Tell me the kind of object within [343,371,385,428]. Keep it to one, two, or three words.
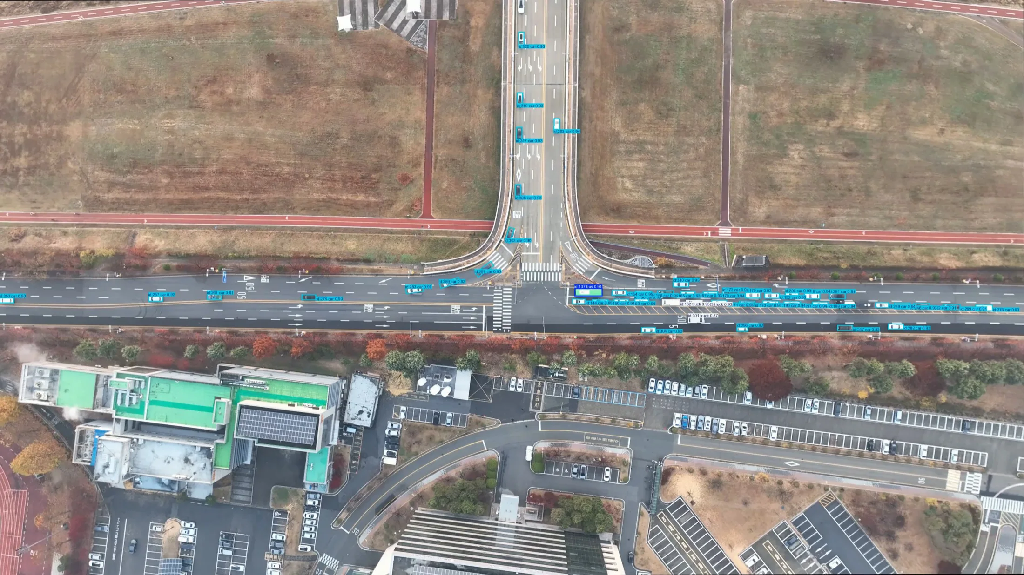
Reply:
building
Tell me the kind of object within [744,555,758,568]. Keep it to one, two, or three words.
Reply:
vehicle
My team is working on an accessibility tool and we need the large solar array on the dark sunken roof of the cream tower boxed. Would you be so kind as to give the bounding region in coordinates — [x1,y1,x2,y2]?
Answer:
[237,409,317,444]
